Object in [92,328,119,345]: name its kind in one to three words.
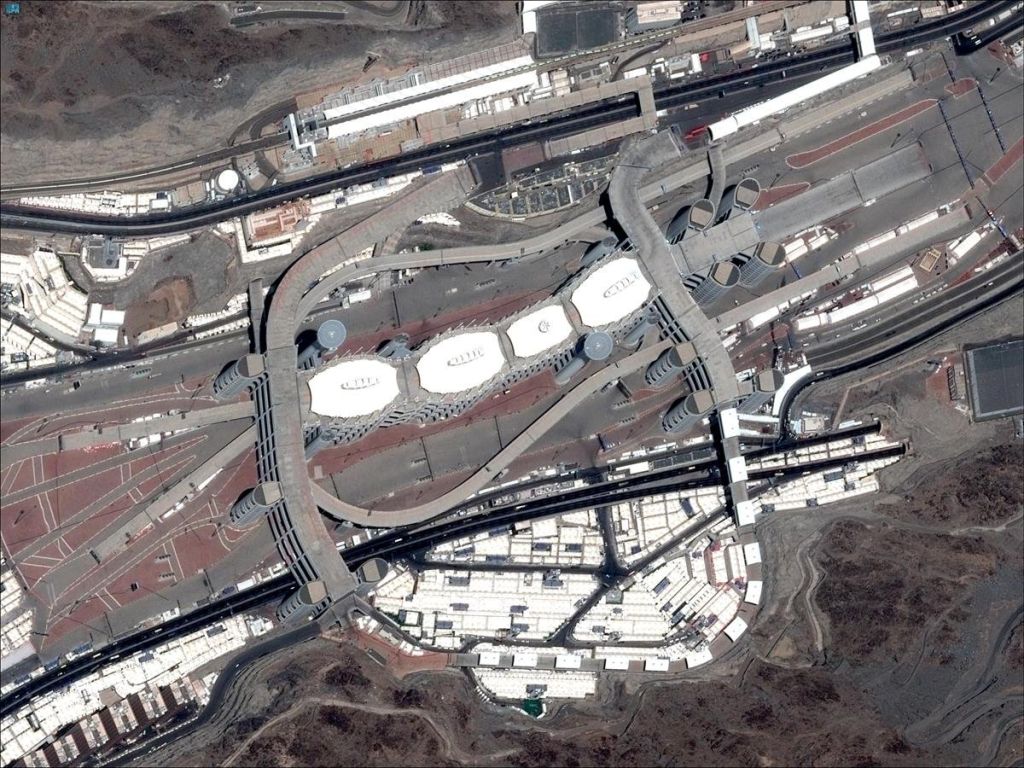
building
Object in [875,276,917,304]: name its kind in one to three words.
shed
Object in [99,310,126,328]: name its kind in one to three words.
building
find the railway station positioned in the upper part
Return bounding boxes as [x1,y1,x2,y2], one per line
[298,55,540,141]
